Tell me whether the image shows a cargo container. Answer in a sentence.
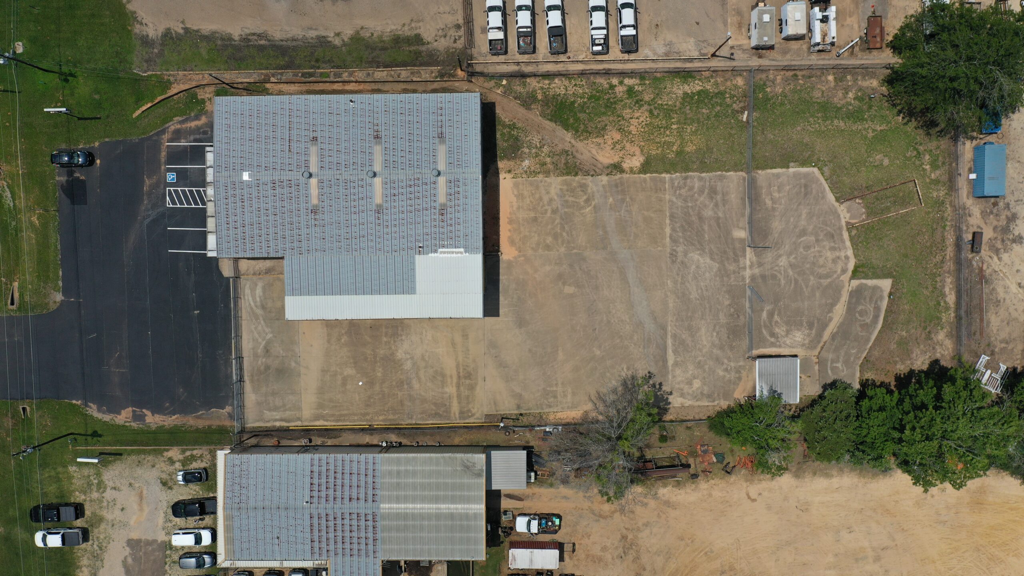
Yes, a cargo container is visible in the scene.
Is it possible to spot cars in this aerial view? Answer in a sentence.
Yes, a car appears in the view.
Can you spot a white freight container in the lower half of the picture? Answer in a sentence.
Yes, the scene does show a white freight container in the lower half of the picture.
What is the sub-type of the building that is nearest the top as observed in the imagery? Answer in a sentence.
The building that is nearest the top is a warehouse.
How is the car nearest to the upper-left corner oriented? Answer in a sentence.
The car nearest to the upper-left corner has been laid out horizontally relative to the frame.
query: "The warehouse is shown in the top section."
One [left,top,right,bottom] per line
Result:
[214,92,485,321]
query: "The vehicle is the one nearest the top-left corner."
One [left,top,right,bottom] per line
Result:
[47,148,89,168]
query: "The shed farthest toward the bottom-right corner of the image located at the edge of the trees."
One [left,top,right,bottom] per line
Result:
[749,356,800,403]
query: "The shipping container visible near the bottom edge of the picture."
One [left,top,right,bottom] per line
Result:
[509,541,559,569]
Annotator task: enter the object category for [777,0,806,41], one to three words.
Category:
trailer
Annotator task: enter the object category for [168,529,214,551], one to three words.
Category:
car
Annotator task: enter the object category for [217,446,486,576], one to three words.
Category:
building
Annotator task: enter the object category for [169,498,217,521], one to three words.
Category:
truck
